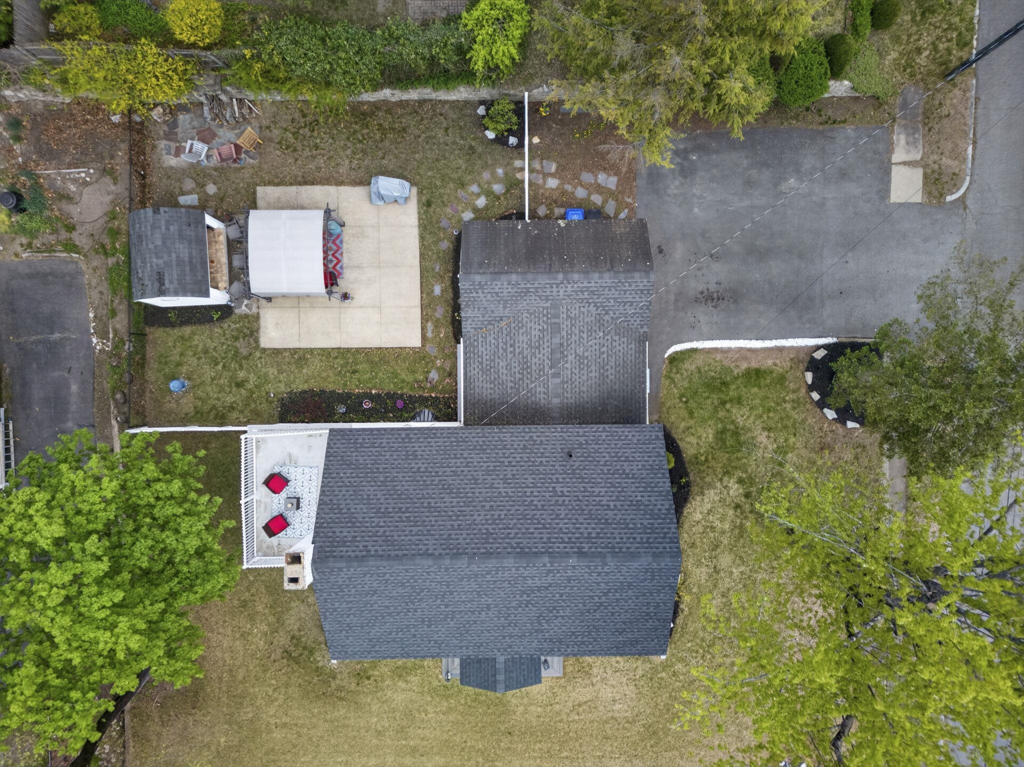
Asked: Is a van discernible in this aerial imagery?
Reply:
No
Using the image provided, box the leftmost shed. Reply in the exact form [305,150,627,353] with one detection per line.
[130,207,231,306]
